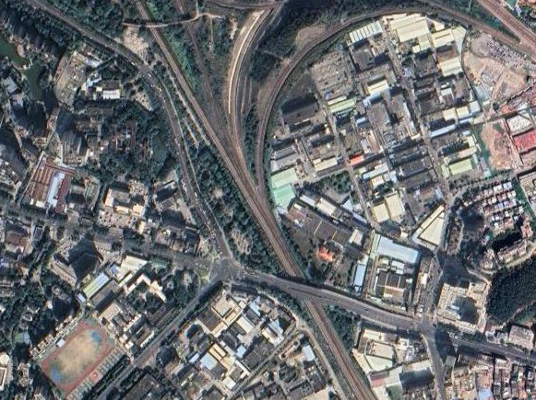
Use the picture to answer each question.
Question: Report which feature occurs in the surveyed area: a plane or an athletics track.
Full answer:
It is an athletics track that can be seen here.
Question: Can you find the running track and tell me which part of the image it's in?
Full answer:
Look in the bottom left portion of the view to spot the running track.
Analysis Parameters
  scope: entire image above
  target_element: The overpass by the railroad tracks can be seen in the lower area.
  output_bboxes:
[270,274,339,301]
